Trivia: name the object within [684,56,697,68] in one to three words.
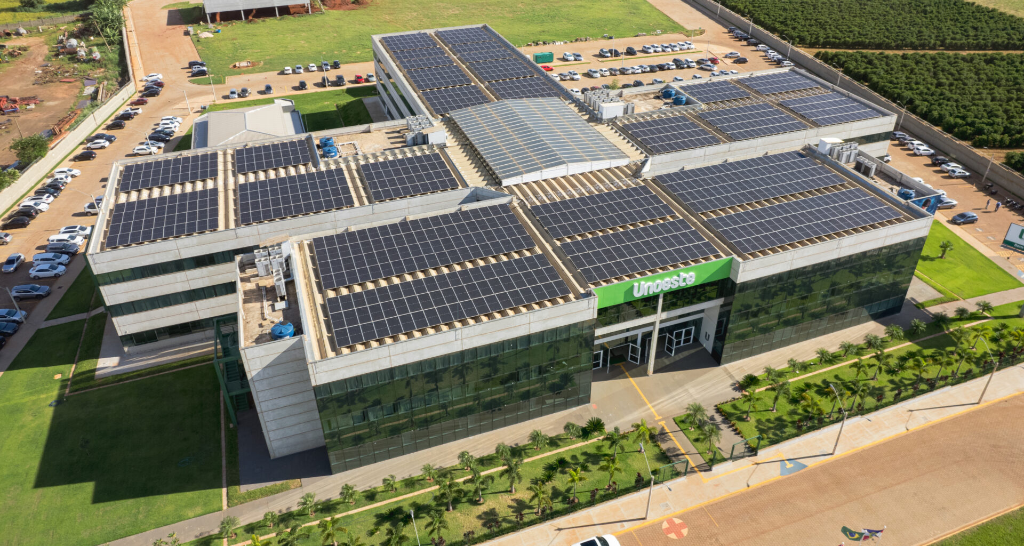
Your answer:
vehicle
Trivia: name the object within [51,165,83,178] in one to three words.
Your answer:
vehicle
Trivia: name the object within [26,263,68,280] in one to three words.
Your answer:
car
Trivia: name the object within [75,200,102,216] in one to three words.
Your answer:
car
